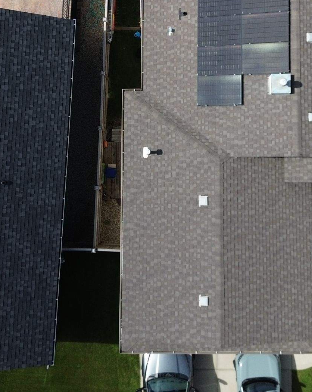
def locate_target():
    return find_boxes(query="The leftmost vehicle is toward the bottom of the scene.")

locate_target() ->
[138,355,200,392]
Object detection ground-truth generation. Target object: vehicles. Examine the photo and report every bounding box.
[138,355,200,392]
[230,355,290,392]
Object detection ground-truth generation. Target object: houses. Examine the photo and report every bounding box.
[118,0,312,355]
[0,8,78,370]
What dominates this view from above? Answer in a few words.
buildings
